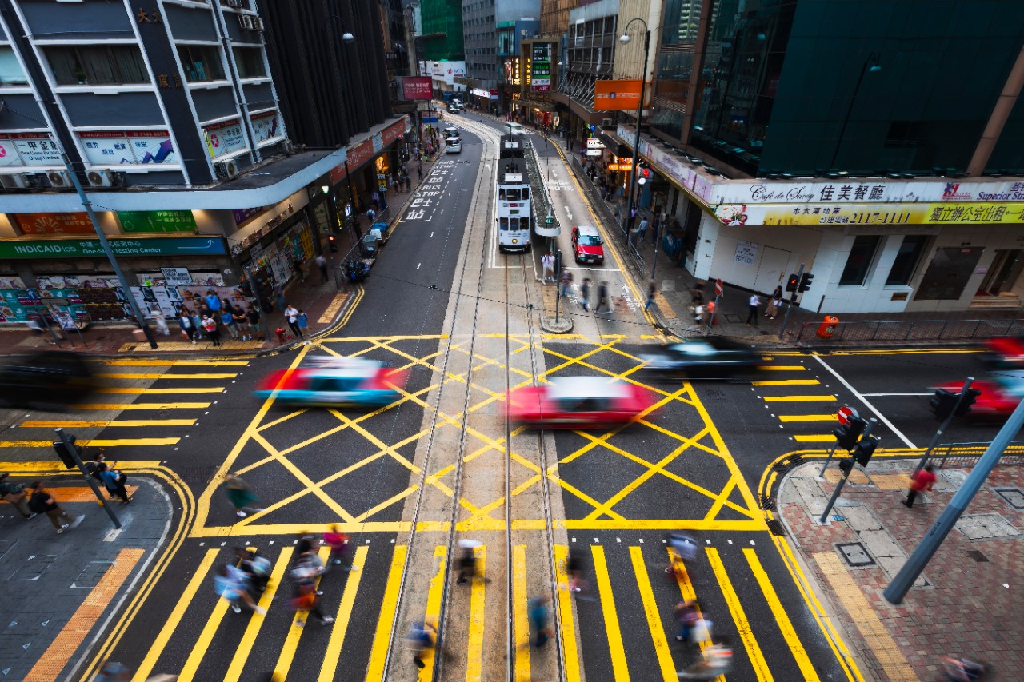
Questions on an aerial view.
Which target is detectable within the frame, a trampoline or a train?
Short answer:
train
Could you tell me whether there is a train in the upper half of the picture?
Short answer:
Yes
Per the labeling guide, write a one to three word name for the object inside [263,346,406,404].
car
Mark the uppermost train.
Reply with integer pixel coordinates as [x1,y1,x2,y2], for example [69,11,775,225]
[501,117,526,157]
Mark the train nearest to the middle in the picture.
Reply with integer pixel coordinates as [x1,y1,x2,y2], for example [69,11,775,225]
[496,138,534,249]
